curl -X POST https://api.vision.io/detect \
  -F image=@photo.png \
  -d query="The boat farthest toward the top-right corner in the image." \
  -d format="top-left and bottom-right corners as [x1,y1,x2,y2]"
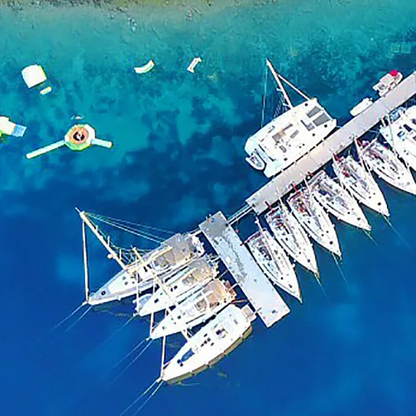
[372,71,404,93]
